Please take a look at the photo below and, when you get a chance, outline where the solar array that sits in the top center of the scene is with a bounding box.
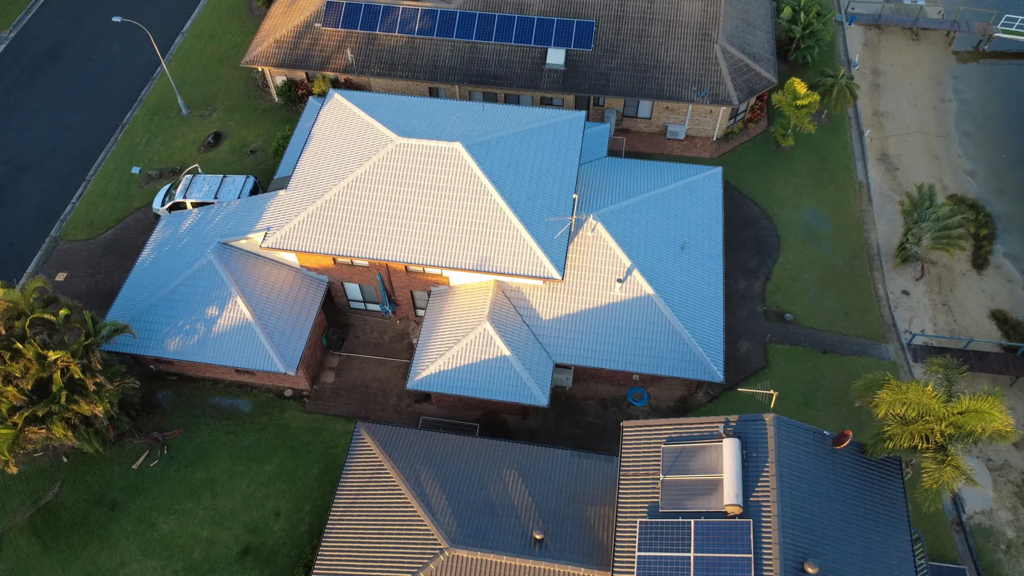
[320,1,597,50]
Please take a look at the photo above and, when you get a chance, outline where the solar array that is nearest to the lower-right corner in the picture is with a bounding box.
[634,519,754,576]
